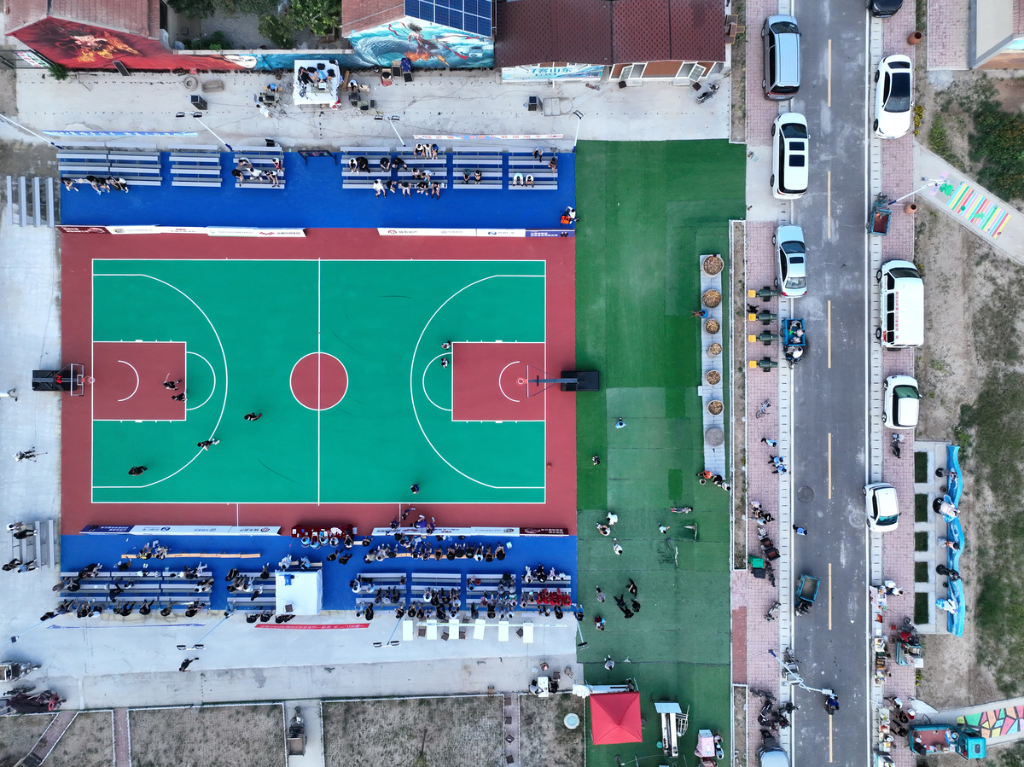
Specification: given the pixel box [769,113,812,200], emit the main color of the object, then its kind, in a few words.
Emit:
white car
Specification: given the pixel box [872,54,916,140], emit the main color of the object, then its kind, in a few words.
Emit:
white car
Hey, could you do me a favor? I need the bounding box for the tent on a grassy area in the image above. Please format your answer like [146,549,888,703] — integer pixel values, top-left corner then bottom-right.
[587,679,642,744]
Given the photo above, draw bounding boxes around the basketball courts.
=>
[61,228,577,535]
